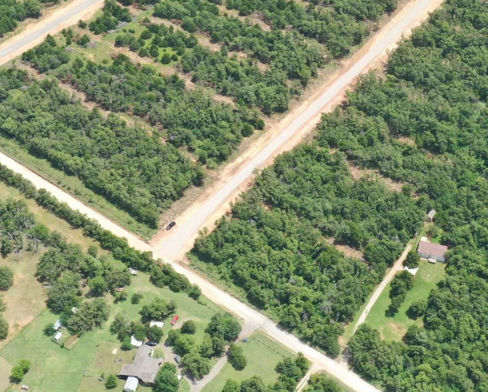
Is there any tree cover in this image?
Yes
